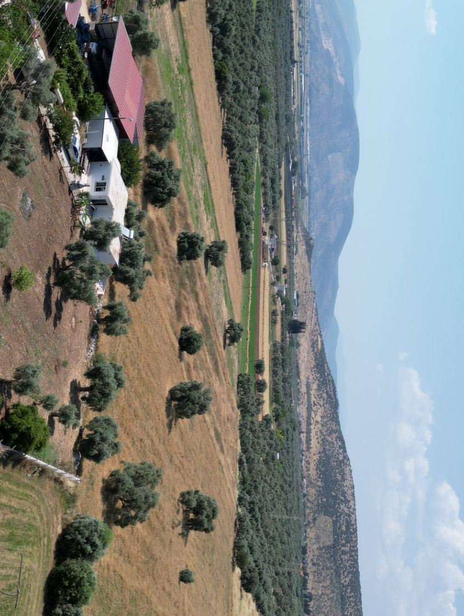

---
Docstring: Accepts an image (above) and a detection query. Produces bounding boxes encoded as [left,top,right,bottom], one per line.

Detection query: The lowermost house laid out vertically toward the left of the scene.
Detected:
[88,155,128,267]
